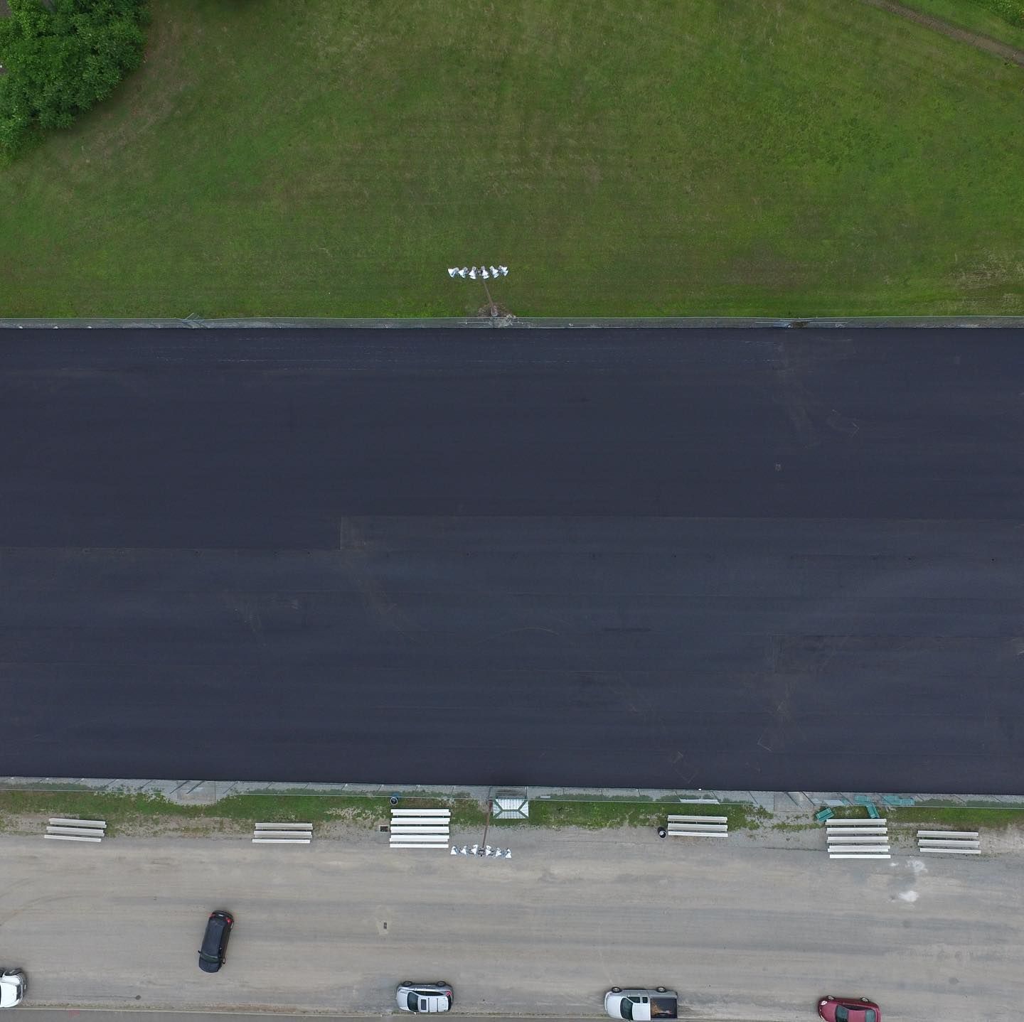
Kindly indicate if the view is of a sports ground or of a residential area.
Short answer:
sports ground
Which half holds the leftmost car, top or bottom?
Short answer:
bottom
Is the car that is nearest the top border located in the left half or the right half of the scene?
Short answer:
left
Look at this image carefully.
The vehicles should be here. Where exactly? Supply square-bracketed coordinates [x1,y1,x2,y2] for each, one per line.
[818,997,884,1022]
[0,973,26,1005]
[197,909,234,972]
[398,981,454,1015]
[604,986,678,1022]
